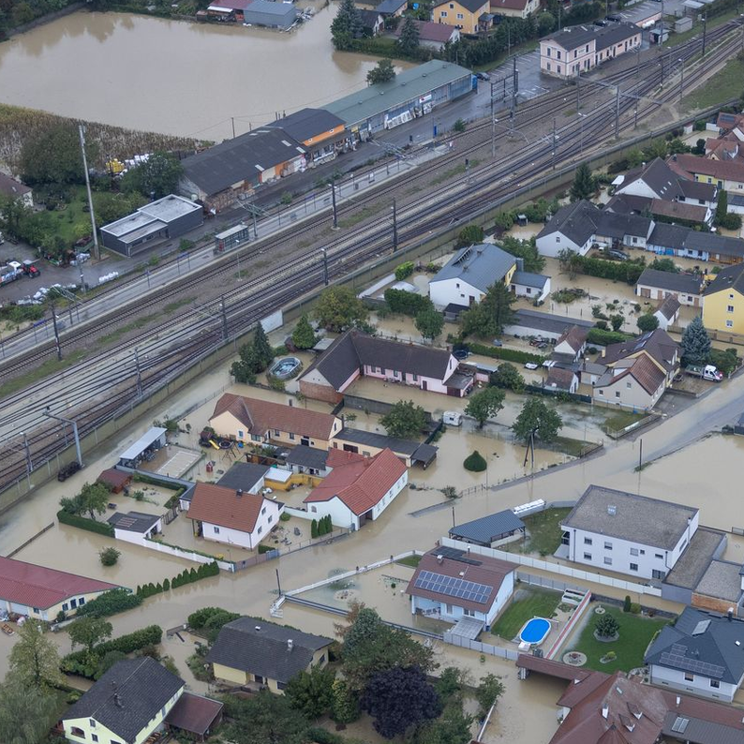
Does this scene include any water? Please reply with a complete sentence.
Yes, there is water in the image.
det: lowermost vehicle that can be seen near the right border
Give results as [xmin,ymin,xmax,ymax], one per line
[684,365,724,384]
